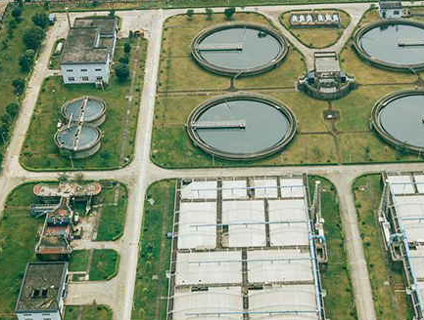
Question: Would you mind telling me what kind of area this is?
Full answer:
This looks like an industrial area.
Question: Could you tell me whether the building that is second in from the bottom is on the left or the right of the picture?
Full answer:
The building that is second in from the bottom sits on the left side.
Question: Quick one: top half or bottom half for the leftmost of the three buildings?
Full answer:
The leftmost of the three buildings sits in the bottom half of the picture.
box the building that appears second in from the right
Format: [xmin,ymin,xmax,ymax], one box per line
[55,16,119,83]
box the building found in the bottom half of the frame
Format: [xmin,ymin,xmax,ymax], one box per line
[12,259,72,320]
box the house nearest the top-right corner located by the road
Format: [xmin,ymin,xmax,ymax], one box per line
[376,0,405,18]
